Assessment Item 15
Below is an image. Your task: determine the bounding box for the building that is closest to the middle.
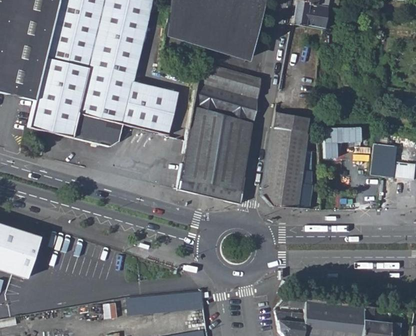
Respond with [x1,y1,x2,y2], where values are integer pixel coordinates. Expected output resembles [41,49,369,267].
[180,108,253,205]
